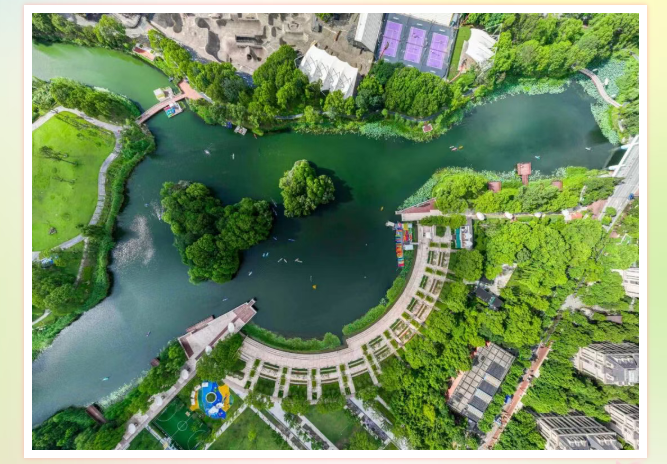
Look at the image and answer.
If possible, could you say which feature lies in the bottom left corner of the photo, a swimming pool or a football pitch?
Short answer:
football pitch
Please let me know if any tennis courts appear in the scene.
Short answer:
Yes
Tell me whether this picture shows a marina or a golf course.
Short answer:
marina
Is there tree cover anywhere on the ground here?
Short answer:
Yes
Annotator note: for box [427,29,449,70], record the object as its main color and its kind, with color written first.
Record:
purple tennis court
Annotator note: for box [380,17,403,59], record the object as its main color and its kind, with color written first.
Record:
purple tennis court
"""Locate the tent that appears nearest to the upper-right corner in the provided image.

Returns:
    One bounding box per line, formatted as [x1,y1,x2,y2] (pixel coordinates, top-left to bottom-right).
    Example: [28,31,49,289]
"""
[462,27,495,67]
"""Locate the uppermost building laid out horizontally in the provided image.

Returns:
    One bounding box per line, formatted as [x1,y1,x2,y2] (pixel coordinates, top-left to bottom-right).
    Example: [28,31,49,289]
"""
[388,0,458,28]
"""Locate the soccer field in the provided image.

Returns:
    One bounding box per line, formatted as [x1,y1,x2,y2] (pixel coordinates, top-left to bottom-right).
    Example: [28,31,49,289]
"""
[148,395,213,458]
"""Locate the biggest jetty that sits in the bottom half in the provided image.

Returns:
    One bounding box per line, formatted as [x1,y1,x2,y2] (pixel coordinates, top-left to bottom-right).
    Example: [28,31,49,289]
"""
[178,298,257,364]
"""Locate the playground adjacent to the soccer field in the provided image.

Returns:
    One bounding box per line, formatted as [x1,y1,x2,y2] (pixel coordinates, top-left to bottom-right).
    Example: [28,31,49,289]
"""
[190,381,233,420]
